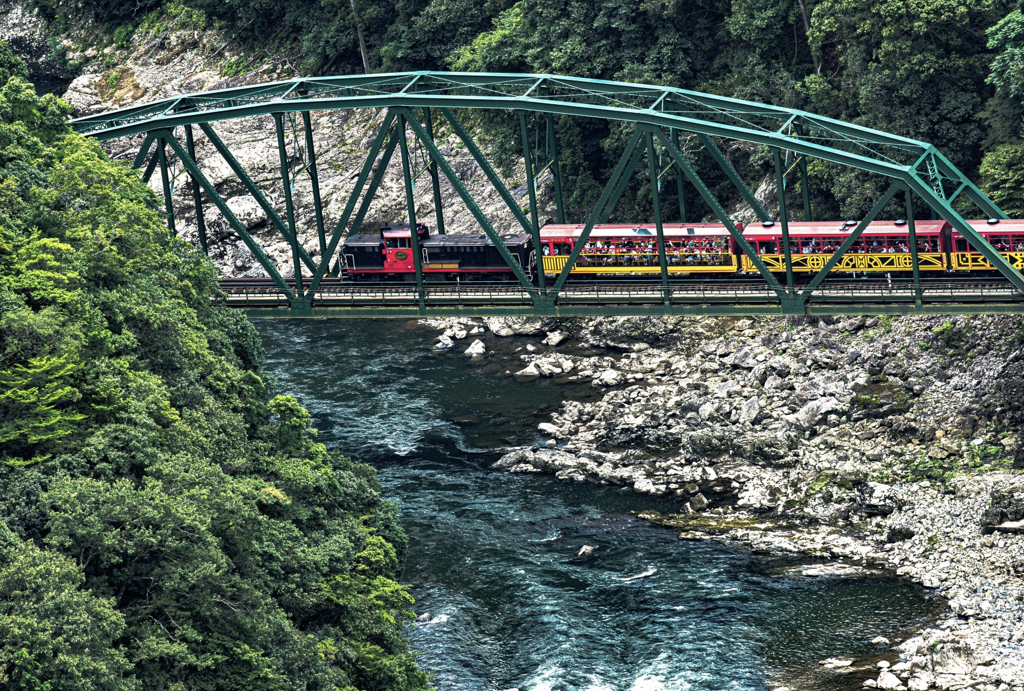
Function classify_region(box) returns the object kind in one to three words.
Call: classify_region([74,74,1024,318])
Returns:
bridge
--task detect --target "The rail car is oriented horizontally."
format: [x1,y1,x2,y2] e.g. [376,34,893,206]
[342,218,536,283]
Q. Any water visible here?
Yes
